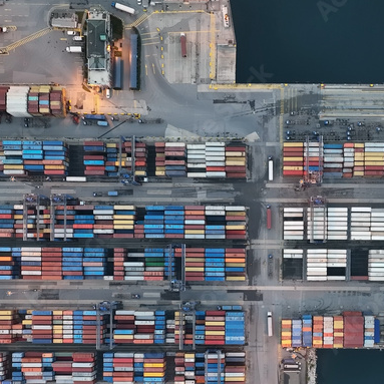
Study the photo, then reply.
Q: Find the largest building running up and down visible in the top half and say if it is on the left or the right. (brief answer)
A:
left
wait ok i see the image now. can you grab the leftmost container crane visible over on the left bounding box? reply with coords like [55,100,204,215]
[24,195,52,242]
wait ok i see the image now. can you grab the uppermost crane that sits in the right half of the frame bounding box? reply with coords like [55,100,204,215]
[302,137,332,189]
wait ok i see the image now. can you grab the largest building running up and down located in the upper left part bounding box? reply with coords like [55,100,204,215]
[86,9,113,91]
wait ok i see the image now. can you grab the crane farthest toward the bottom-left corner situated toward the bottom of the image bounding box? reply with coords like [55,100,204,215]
[98,300,133,349]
